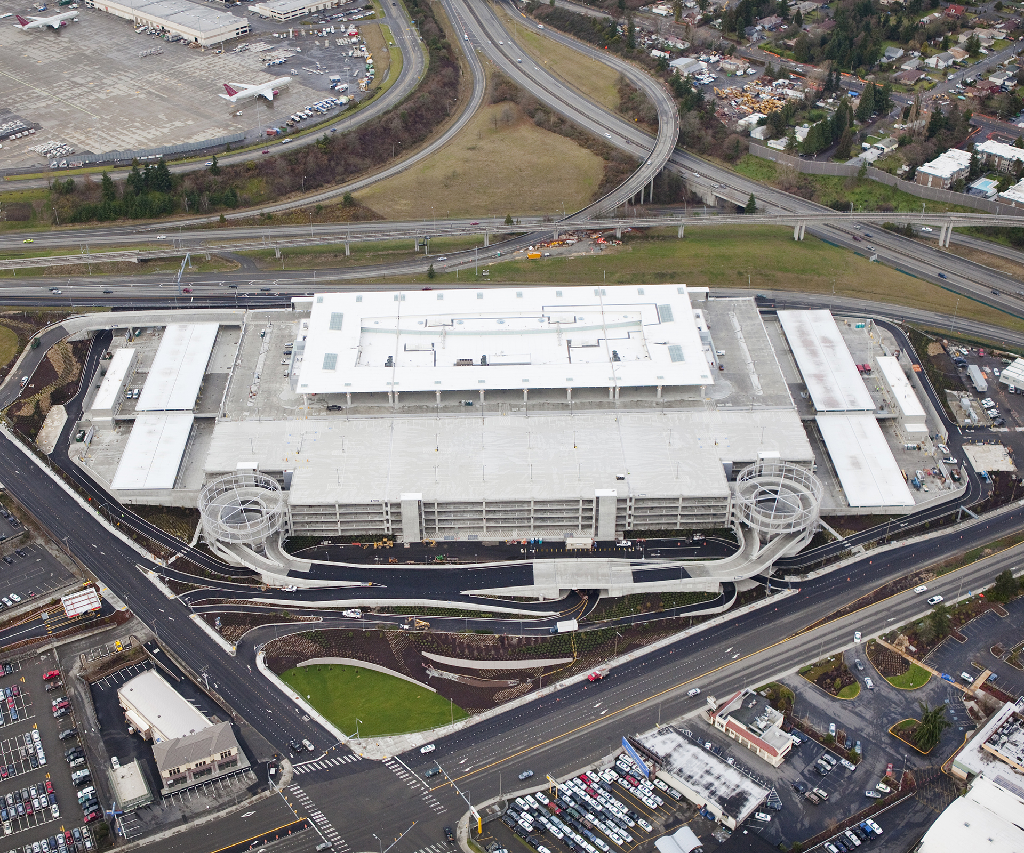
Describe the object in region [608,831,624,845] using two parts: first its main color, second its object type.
white car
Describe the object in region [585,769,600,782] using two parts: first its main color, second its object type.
white vehicle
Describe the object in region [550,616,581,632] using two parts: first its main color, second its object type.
white vehicle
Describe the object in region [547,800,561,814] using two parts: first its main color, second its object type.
red car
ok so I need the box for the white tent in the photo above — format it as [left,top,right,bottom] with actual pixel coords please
[654,825,703,853]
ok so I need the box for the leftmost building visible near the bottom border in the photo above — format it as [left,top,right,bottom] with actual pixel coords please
[110,761,154,820]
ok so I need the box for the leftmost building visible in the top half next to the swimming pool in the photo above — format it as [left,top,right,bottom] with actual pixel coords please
[914,148,971,191]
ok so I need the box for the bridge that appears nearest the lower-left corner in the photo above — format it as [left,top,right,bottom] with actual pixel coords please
[289,557,721,597]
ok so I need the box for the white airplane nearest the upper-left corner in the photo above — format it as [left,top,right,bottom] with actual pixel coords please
[9,14,82,34]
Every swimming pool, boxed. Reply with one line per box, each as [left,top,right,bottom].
[970,177,1000,195]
